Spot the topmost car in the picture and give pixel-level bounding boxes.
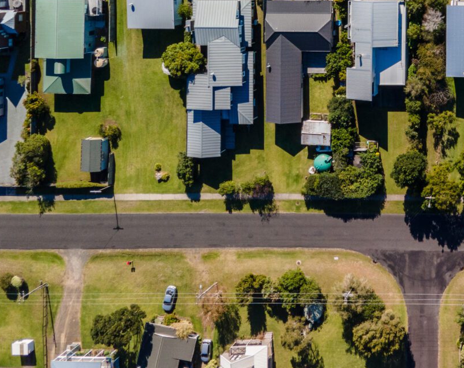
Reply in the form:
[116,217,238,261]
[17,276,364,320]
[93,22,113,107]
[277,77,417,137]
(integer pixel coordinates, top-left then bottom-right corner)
[163,284,179,312]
